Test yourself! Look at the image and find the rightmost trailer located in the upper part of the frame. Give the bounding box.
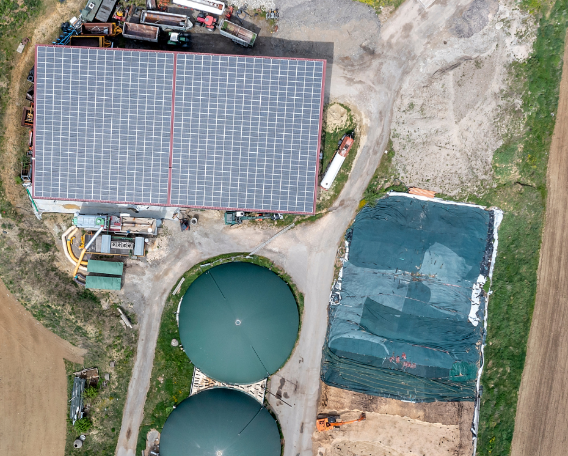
[320,133,352,188]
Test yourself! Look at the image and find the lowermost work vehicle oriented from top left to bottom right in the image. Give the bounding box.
[173,213,191,233]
